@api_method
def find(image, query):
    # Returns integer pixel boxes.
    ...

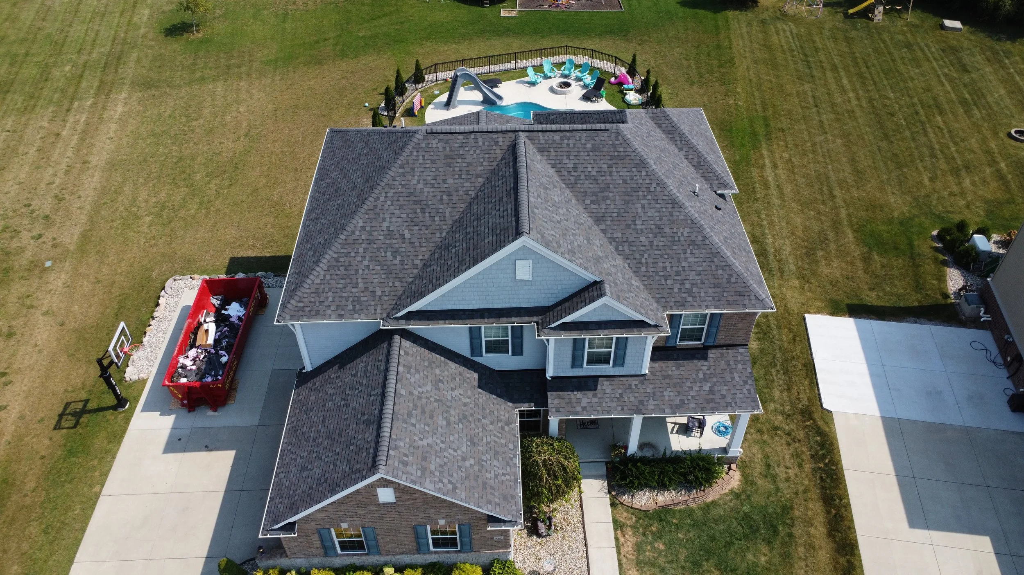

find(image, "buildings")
[981,217,1024,390]
[257,106,776,575]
